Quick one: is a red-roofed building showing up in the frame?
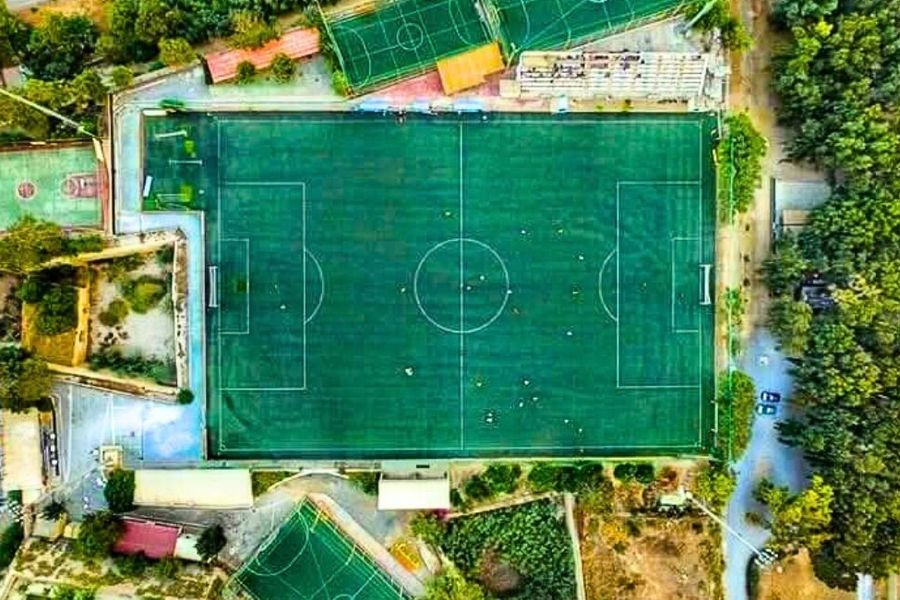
Yes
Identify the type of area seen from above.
sports ground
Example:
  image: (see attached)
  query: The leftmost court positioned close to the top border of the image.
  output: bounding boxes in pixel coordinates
[327,0,500,95]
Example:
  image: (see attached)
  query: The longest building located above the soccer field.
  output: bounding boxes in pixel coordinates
[205,28,323,88]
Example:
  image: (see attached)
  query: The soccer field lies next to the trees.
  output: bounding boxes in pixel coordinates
[146,115,717,460]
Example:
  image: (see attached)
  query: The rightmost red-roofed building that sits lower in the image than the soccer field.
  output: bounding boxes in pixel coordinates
[114,512,185,560]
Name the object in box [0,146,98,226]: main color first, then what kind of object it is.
green basketball court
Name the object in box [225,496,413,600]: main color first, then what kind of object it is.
green sports court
